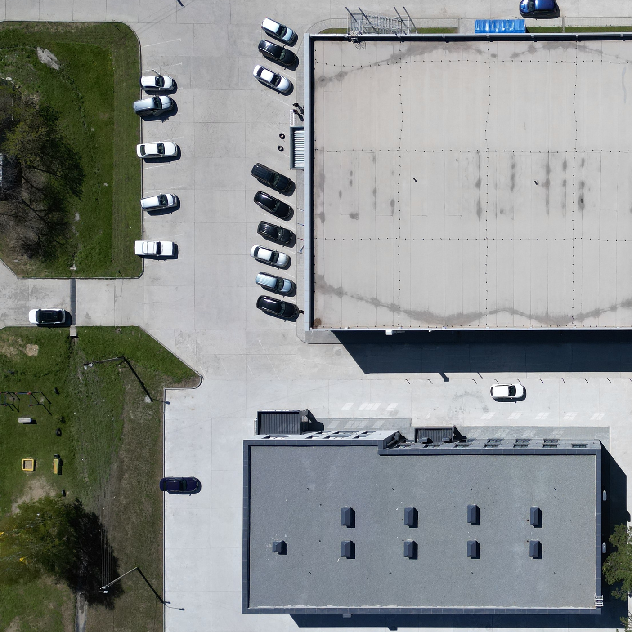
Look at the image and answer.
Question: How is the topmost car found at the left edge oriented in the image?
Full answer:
The topmost car found at the left edge runs from side to side in the image.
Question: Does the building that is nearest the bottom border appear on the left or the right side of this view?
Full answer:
The building that is nearest the bottom border sits on the right side.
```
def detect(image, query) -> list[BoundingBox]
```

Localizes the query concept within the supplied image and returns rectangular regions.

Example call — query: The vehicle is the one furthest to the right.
[520,0,558,16]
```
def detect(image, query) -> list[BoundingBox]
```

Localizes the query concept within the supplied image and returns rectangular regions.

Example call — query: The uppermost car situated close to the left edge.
[27,306,67,326]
